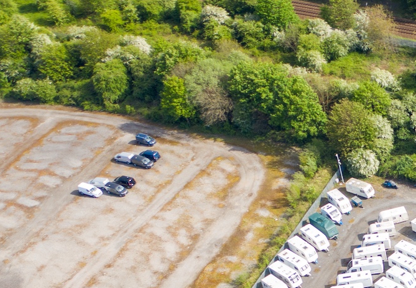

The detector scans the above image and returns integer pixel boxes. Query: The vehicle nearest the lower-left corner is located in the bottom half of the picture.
[78,183,103,198]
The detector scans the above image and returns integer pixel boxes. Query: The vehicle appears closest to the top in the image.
[135,132,157,146]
